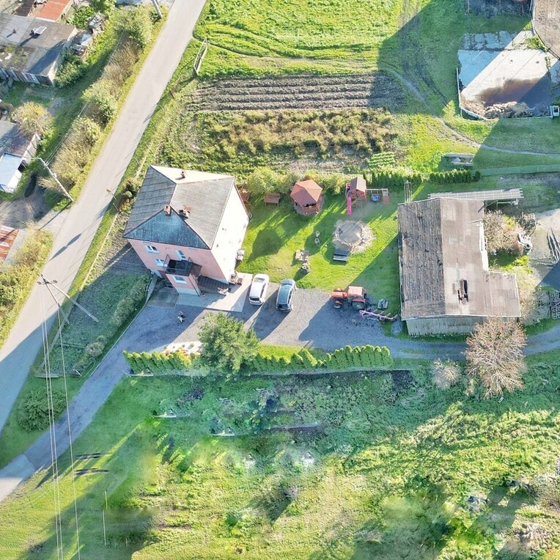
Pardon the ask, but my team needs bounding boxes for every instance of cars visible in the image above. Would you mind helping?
[246,276,267,305]
[274,281,295,311]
